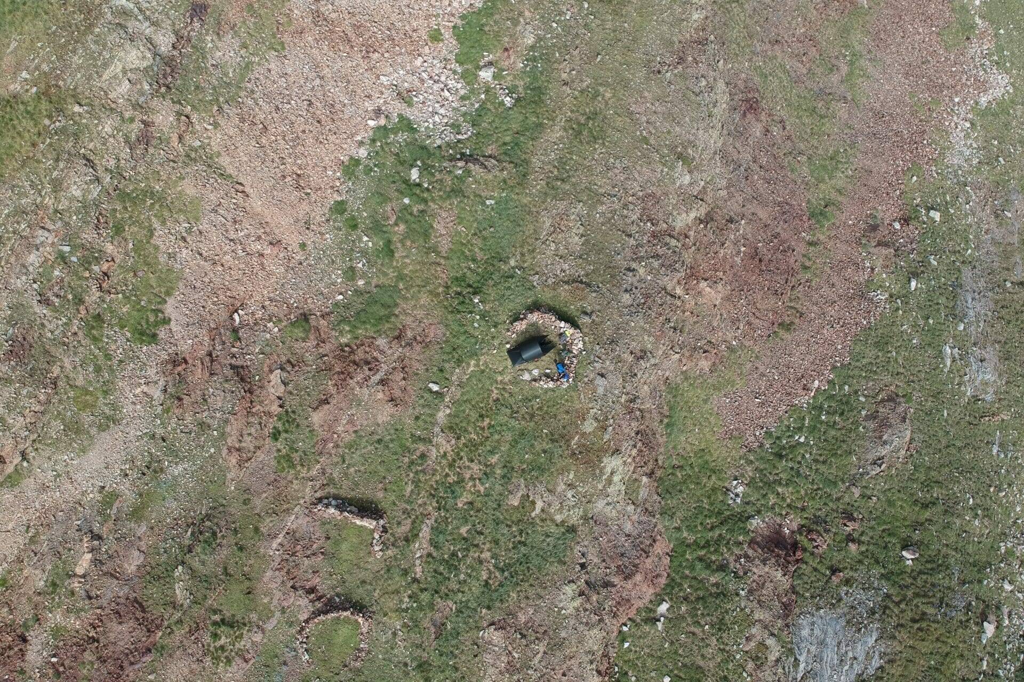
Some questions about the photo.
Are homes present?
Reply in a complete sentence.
No, no home is visible in the scene.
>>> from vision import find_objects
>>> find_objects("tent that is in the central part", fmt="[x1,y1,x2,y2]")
[507,335,555,367]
